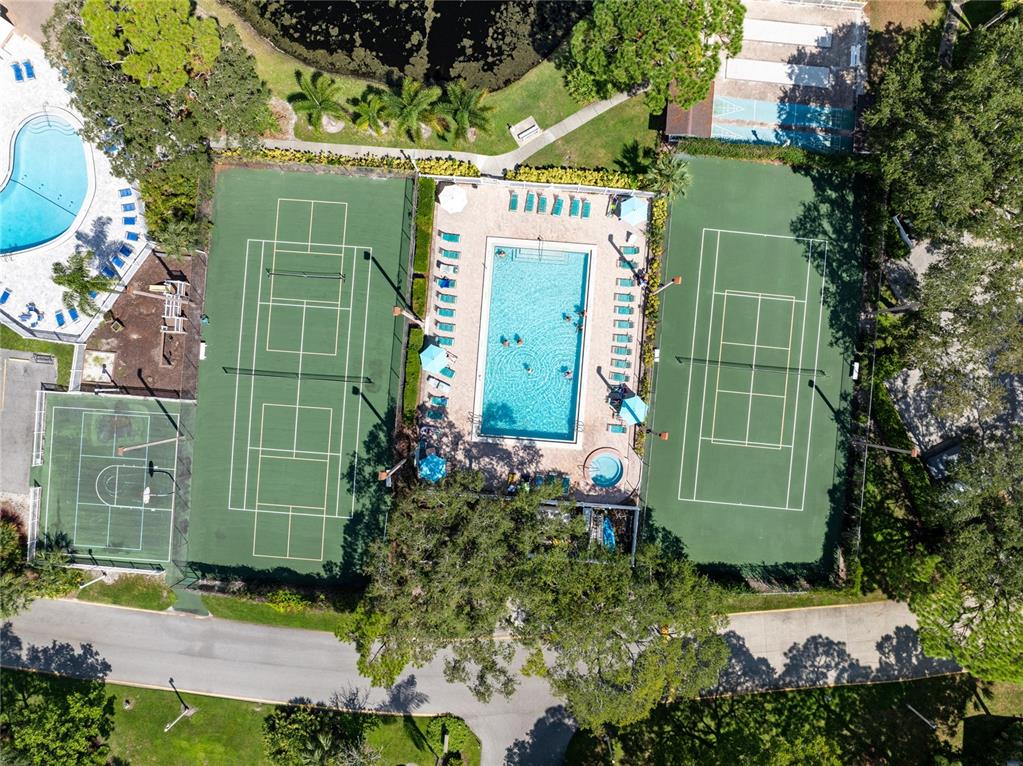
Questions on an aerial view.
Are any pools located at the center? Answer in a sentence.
Yes, looking at the center, one can make out a pool.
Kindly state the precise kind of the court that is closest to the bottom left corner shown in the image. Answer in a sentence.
Specifically, the court that is closest to the bottom left corner is a basketball court.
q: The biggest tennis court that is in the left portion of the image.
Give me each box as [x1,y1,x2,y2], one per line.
[187,168,414,579]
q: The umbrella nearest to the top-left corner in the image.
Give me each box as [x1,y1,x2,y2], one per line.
[439,185,468,213]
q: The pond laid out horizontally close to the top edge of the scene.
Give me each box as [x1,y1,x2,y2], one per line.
[224,0,593,95]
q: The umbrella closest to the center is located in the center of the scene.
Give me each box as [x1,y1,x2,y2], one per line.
[420,345,448,375]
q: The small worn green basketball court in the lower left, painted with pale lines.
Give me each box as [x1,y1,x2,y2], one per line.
[30,391,196,576]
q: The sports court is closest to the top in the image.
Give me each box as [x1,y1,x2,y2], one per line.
[739,18,833,48]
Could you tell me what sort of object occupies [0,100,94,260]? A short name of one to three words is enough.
swimming pool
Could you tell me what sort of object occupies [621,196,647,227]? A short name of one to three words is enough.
umbrella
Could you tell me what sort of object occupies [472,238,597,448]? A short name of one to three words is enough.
swimming pool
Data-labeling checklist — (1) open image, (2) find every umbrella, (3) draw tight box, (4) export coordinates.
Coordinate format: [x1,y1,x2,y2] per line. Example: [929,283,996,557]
[617,393,649,426]
[621,196,647,227]
[420,345,448,375]
[439,185,468,213]
[421,453,446,481]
